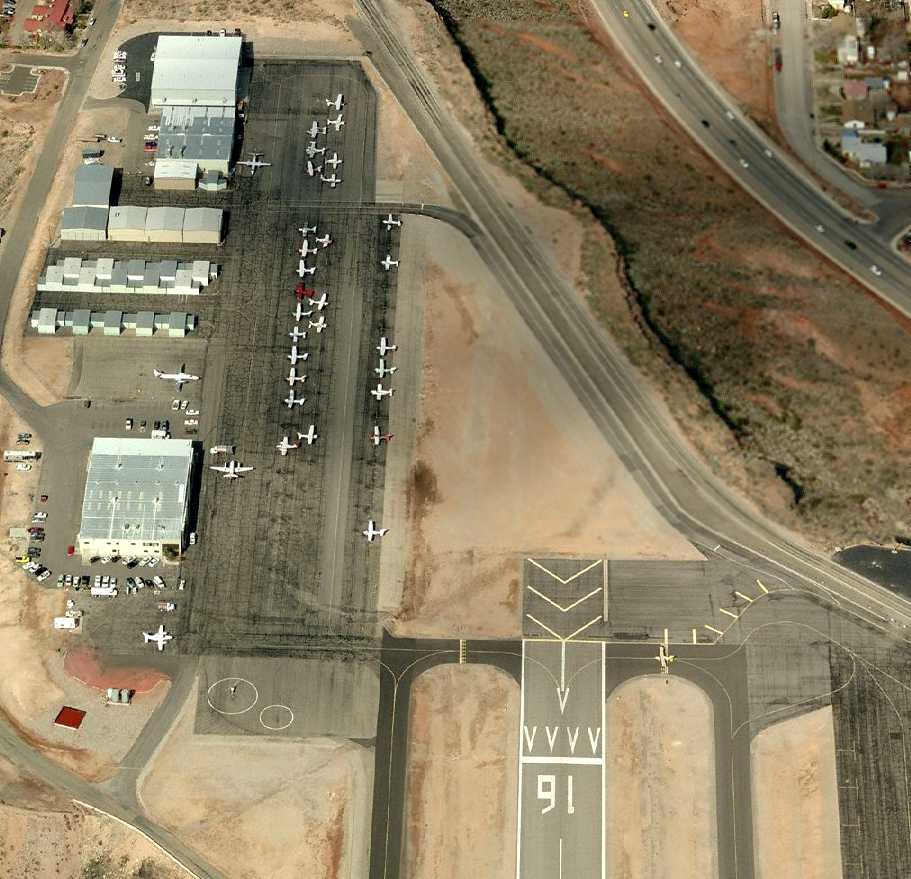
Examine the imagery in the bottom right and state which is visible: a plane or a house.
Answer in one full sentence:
There is a plane in the bottom right.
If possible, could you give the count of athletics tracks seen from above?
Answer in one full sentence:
The count of athletics tracks is 0.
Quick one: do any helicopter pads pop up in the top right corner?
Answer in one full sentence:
No, I see no helicopter pad in the top right corner.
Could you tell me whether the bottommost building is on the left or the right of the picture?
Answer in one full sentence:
The bottommost building appears in the left half of the scene.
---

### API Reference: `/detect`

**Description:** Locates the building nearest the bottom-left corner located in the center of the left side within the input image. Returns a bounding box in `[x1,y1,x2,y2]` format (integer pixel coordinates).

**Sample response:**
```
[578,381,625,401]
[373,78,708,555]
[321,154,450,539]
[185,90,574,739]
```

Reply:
[79,437,193,566]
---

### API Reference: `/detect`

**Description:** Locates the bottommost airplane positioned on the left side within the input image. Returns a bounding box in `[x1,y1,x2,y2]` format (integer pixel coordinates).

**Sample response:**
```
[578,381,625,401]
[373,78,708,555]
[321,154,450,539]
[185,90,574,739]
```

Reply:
[138,623,170,651]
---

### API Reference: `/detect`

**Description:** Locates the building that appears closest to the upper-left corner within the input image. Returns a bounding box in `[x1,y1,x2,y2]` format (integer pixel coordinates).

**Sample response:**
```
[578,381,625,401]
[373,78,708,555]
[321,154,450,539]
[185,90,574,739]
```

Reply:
[20,0,79,40]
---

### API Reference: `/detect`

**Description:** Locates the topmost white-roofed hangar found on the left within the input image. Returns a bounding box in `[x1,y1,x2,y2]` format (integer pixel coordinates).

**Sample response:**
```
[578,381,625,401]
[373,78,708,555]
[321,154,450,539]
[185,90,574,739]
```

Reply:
[150,35,243,126]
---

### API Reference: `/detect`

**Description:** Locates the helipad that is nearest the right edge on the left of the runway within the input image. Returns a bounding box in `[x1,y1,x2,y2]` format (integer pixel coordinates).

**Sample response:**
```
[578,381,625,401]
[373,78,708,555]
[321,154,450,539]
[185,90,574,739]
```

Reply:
[260,705,294,730]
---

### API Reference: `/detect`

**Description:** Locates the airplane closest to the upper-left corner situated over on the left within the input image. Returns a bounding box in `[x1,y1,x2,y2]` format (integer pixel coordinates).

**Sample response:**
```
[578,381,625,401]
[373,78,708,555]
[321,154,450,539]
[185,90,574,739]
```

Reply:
[238,148,270,170]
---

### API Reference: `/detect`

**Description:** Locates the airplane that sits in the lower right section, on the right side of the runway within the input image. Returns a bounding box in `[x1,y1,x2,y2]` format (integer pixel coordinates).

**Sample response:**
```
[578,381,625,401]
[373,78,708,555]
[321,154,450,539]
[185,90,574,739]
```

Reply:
[654,644,676,671]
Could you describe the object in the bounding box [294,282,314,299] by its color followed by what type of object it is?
red airplane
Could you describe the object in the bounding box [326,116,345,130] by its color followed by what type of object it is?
white airplane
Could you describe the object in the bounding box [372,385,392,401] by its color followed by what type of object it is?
white airplane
